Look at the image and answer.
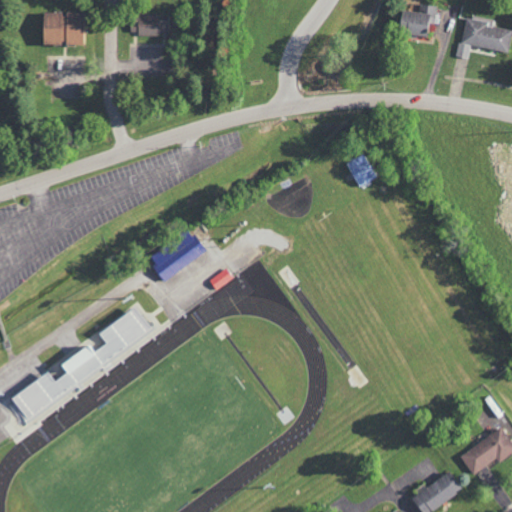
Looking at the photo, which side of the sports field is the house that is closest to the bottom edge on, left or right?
to the right of it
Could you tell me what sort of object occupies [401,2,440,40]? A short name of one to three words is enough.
house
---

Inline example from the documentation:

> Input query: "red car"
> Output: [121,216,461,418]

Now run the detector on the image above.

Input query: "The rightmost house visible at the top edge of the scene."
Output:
[456,14,512,60]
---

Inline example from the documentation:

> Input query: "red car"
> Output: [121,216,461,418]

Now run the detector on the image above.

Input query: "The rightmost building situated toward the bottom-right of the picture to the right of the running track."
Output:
[462,422,512,474]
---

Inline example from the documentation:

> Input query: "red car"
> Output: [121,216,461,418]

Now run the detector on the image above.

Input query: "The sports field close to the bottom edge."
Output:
[28,327,285,512]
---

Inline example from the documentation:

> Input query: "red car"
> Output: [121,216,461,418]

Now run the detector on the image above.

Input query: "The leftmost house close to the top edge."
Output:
[43,11,86,46]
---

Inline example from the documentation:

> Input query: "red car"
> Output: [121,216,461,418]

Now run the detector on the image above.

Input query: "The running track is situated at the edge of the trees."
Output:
[0,260,327,512]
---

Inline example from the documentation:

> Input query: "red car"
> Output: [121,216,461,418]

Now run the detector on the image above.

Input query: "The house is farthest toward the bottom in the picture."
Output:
[414,470,460,512]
